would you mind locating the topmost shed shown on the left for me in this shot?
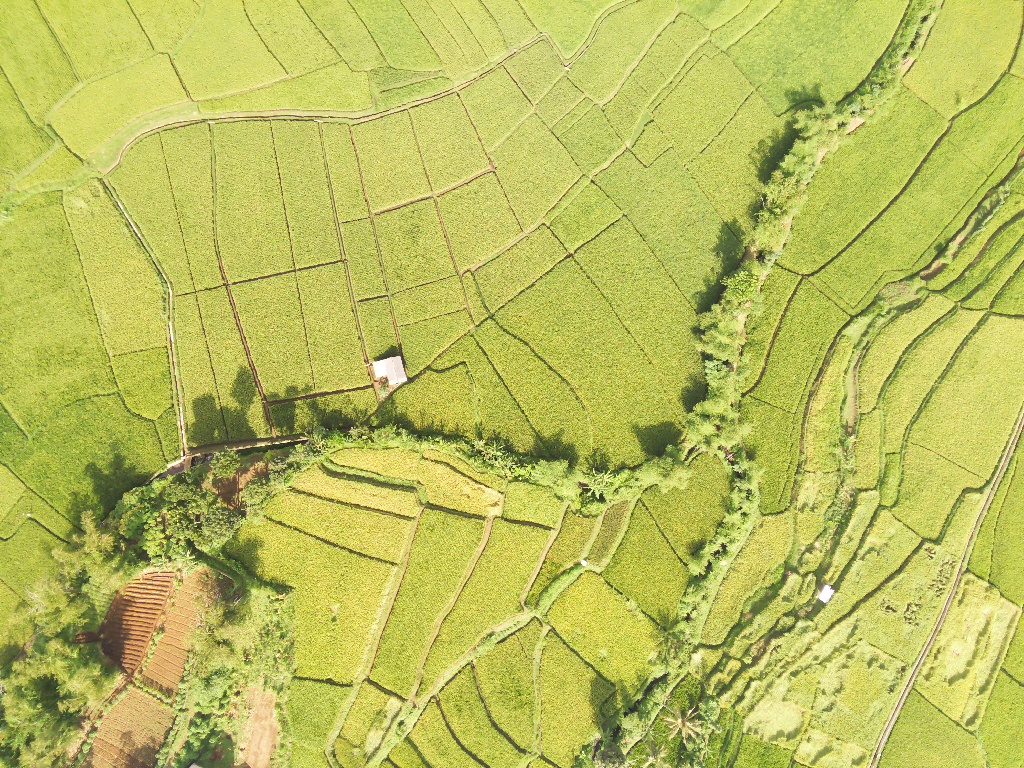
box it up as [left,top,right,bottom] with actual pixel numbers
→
[372,355,407,384]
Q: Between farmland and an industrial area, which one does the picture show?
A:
farmland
